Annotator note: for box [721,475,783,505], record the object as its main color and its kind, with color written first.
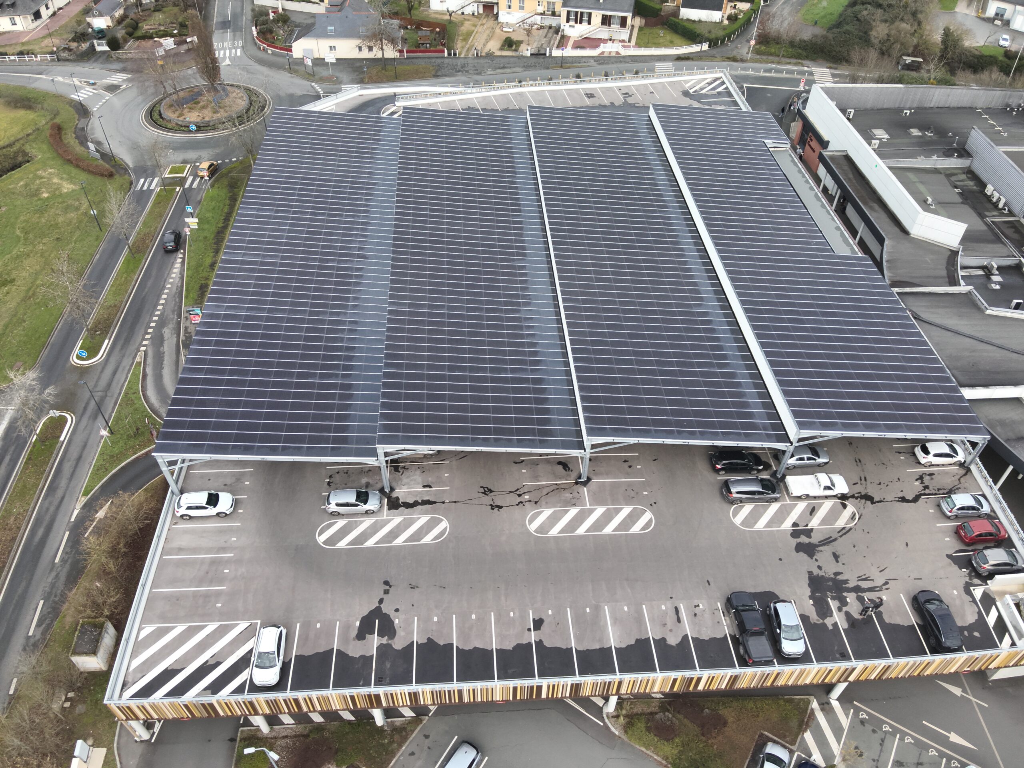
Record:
gray car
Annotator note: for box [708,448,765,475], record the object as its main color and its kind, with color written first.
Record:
black car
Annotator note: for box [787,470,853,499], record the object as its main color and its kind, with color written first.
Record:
white truck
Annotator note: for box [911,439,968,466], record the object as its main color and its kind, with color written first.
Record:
white car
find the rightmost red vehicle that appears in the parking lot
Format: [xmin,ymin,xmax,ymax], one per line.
[952,517,1011,547]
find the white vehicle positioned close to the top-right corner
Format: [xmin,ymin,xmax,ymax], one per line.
[996,33,1015,46]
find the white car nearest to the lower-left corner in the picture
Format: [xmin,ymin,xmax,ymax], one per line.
[250,627,288,689]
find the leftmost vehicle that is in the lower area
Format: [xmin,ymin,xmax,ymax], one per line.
[172,488,235,520]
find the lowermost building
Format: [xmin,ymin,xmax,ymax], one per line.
[66,614,120,670]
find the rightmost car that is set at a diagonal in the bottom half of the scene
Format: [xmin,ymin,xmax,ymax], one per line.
[912,591,968,657]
